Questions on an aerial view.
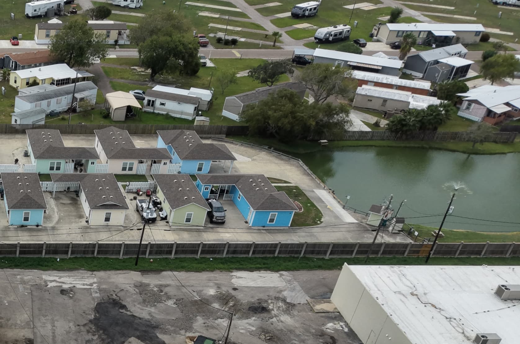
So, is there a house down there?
Yes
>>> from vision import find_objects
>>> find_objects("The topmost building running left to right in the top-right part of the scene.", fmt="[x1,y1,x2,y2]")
[376,24,487,44]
